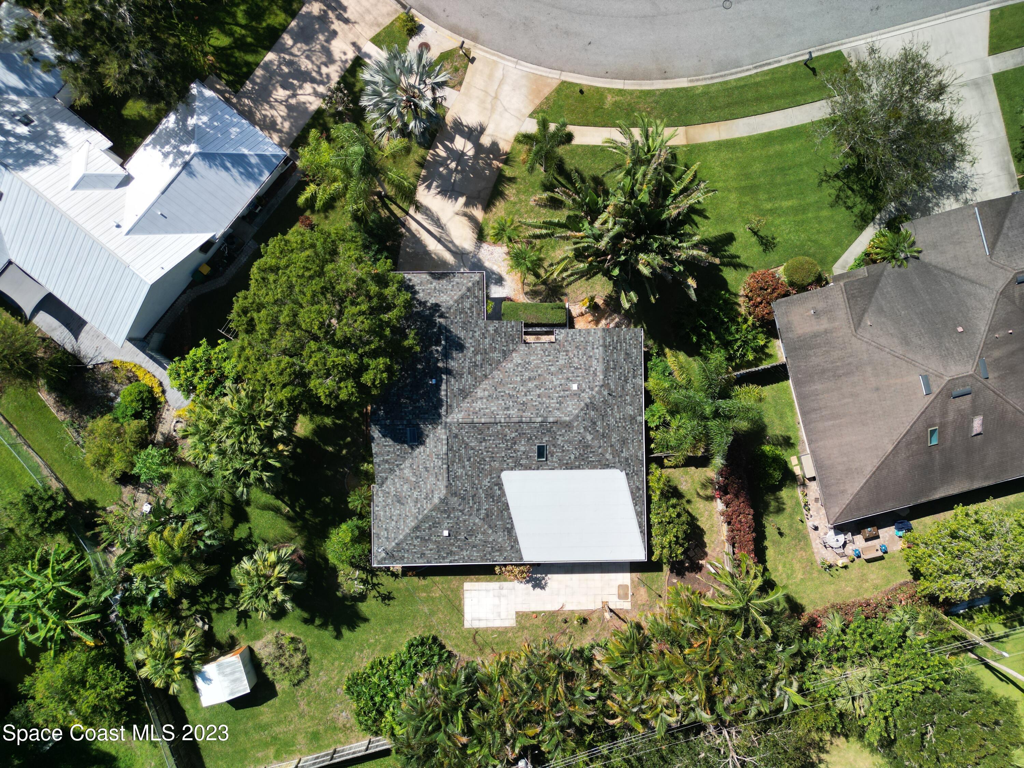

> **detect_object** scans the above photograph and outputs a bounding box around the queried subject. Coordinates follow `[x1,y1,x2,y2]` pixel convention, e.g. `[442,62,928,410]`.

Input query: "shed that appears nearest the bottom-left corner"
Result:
[193,645,259,706]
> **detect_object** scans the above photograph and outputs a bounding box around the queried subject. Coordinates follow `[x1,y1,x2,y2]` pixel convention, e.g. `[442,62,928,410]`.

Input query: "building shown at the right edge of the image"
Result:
[770,188,1024,527]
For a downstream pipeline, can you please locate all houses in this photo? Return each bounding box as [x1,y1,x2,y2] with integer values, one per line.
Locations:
[770,188,1024,527]
[0,2,293,350]
[370,270,649,567]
